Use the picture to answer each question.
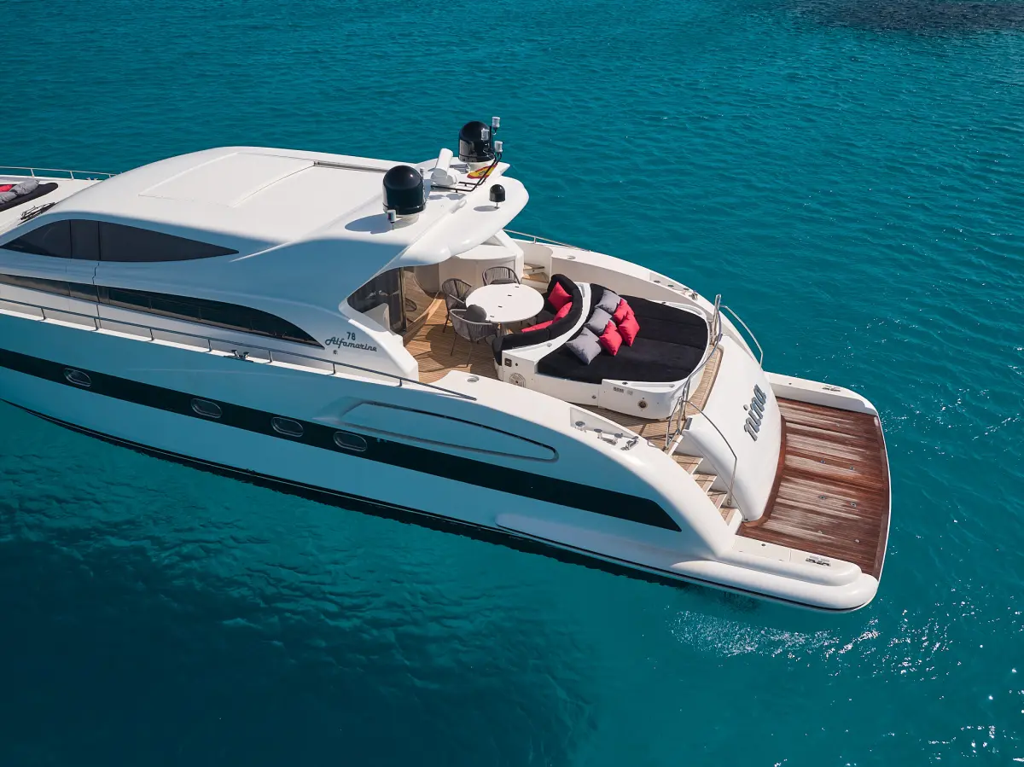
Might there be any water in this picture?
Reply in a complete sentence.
Yes, there is water in the image.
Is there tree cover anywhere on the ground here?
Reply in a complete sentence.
No, tree cover can't be seen anywhere here.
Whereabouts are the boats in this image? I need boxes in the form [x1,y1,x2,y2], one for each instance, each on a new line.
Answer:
[0,120,891,620]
